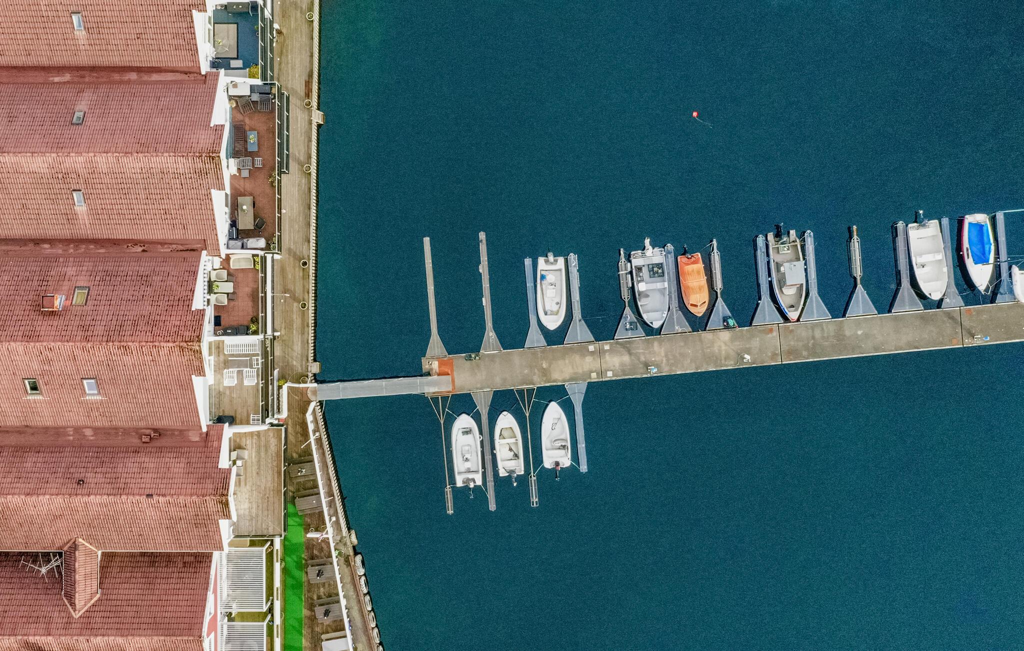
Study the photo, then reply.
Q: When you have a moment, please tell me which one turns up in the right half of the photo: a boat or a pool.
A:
boat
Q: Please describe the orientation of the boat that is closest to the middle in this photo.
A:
vertically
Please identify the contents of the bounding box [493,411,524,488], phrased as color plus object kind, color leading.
white boat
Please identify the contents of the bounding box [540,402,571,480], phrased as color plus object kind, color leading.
white boat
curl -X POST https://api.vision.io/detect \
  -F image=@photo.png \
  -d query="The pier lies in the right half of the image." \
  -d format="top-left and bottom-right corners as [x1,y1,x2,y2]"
[423,301,1024,397]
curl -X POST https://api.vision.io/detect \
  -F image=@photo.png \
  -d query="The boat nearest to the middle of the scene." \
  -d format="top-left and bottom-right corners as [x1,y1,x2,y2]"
[536,249,566,330]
